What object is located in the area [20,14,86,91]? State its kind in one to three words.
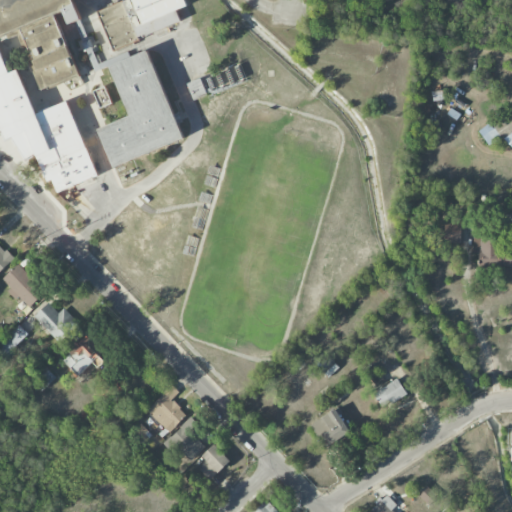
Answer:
building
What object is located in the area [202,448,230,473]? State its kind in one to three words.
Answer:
house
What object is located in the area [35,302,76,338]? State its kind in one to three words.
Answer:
house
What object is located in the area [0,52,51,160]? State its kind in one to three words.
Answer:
building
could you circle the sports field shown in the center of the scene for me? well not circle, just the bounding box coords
[183,103,342,358]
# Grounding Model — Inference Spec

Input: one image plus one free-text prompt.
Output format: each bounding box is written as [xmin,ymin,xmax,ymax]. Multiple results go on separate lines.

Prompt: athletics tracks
[180,100,345,361]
